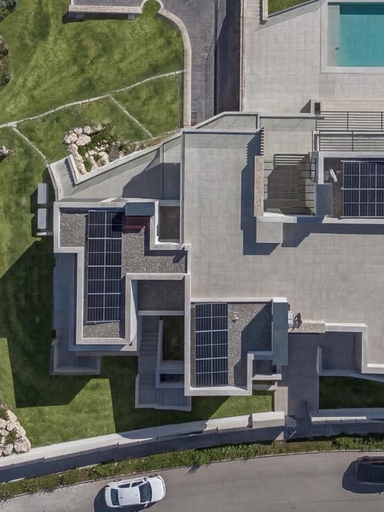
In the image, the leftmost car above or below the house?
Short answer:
below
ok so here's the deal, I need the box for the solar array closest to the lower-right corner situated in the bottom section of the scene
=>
[194,302,230,386]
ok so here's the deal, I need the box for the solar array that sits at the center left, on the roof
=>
[86,208,124,323]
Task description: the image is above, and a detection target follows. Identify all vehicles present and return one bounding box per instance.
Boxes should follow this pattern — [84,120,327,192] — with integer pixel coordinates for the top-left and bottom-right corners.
[104,472,167,507]
[354,452,384,484]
